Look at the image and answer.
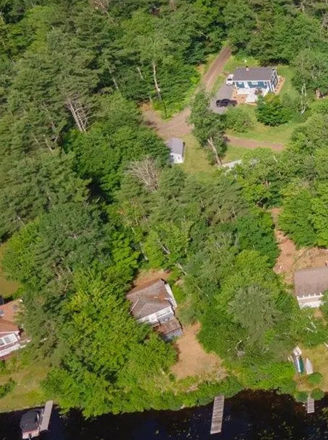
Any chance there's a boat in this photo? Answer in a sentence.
Yes, there's a boat here.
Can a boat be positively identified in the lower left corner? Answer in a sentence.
Yes, the scene does show a boat in the lower left corner.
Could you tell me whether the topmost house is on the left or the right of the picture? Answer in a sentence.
The topmost house appears in the right half of the scene.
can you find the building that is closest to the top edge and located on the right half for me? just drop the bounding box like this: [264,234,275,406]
[233,65,276,94]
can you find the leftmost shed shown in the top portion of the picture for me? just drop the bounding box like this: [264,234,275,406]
[171,135,189,161]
